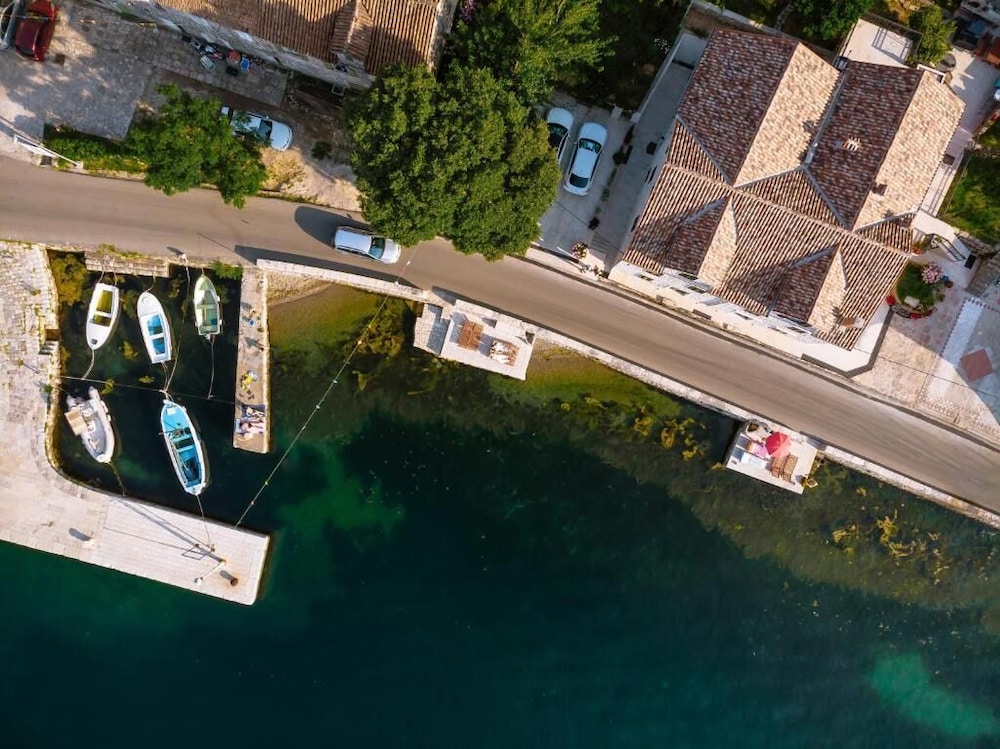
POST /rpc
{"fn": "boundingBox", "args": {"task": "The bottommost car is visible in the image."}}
[329,223,401,264]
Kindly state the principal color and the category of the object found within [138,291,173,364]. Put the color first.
white boat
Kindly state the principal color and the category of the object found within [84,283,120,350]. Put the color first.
white boat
